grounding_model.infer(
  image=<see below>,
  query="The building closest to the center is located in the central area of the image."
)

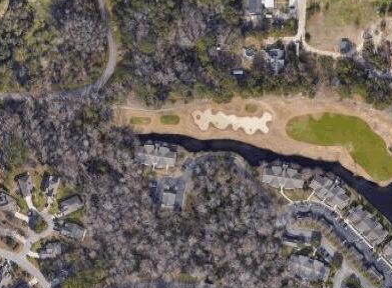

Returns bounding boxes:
[137,143,180,169]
